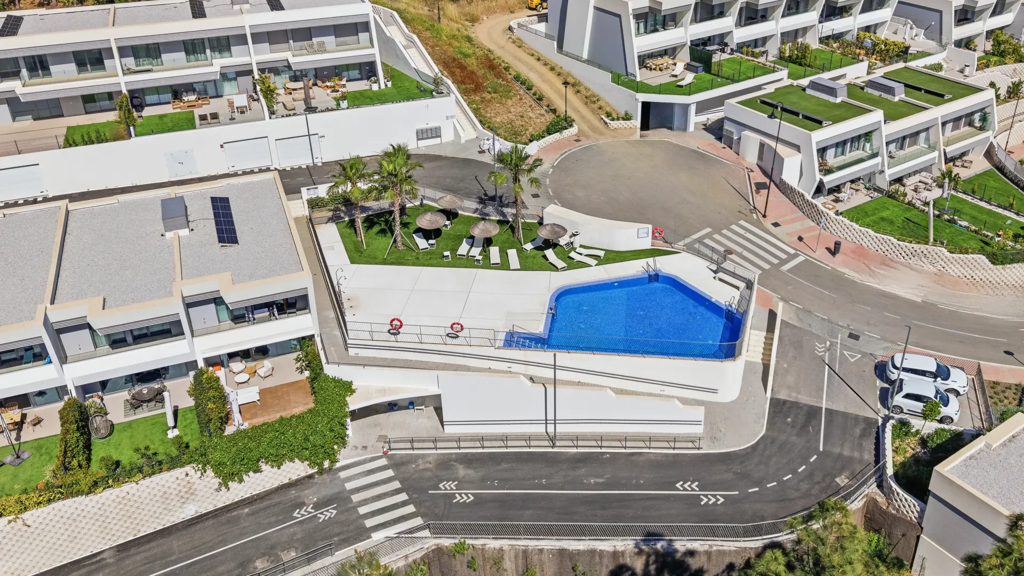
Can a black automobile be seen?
No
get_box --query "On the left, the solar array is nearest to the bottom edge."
[217,192,240,246]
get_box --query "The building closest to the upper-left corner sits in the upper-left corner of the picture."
[0,5,122,122]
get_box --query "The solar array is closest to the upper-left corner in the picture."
[0,11,22,37]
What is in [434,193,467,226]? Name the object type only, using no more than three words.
umbrella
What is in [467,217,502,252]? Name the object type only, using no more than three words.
umbrella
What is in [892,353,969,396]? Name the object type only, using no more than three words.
car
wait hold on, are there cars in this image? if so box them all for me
[892,353,969,396]
[894,386,961,428]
